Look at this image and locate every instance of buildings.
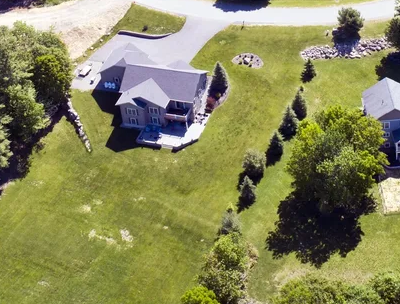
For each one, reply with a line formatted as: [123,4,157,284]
[100,41,206,130]
[358,73,400,166]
